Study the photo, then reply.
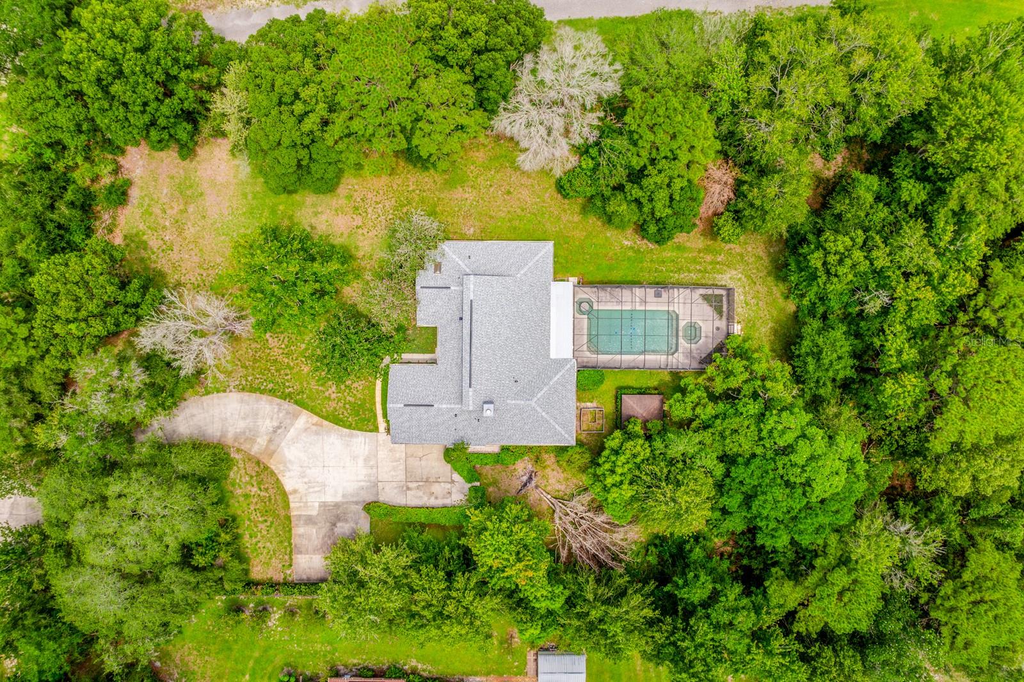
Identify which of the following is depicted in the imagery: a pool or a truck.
pool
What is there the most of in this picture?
trees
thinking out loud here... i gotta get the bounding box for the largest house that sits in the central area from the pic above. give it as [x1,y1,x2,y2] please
[387,240,577,449]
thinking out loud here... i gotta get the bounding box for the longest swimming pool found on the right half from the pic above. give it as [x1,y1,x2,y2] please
[573,295,682,358]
